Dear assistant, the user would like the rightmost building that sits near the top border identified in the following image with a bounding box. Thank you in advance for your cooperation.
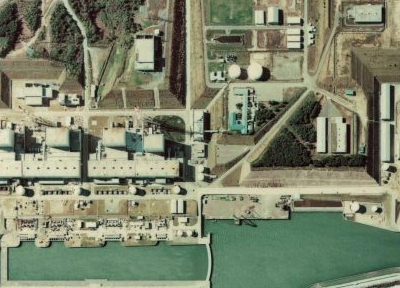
[348,6,382,22]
